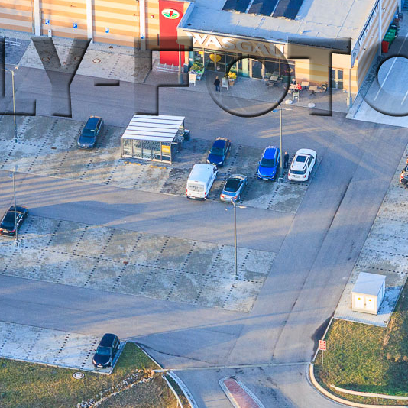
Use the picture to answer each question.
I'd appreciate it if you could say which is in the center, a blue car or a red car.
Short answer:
blue car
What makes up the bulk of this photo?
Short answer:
paved ground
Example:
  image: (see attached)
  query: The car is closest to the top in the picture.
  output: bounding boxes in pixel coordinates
[75,116,106,151]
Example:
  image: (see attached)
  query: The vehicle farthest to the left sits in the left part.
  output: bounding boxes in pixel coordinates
[0,207,30,241]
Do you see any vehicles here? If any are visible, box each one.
[91,330,123,370]
[287,150,318,185]
[0,207,30,241]
[186,167,217,202]
[218,173,249,205]
[204,135,234,169]
[254,146,282,180]
[75,116,106,151]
